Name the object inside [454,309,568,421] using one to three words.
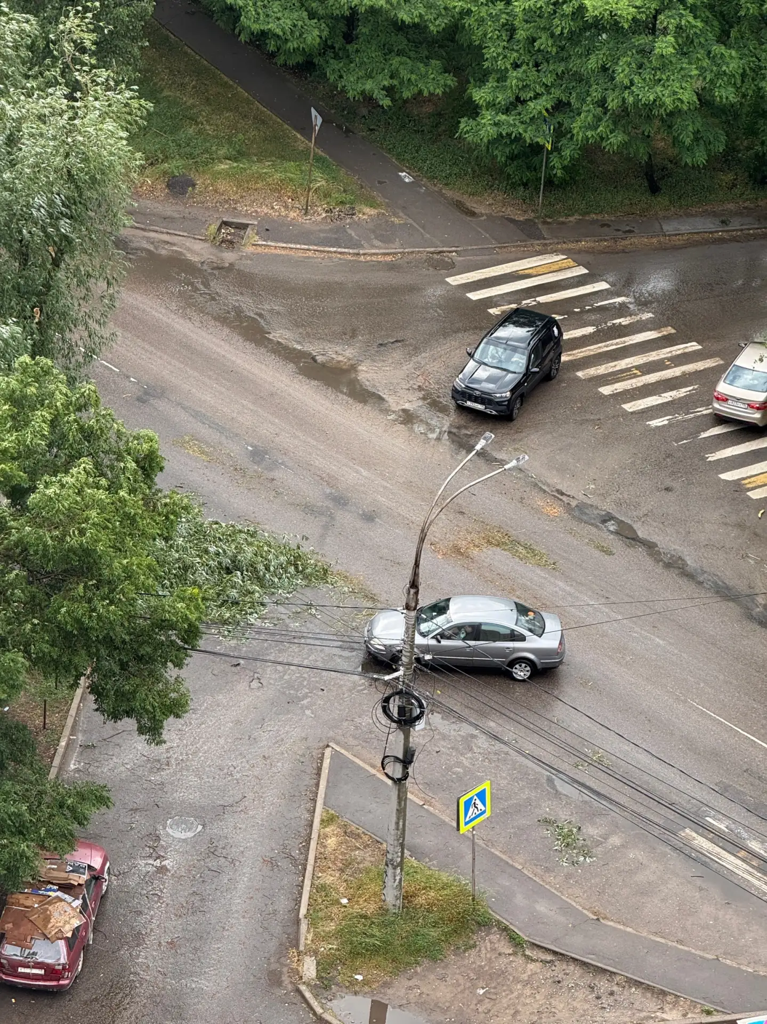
car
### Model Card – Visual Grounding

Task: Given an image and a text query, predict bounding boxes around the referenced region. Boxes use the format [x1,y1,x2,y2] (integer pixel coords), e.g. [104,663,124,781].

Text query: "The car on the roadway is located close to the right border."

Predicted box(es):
[709,331,767,427]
